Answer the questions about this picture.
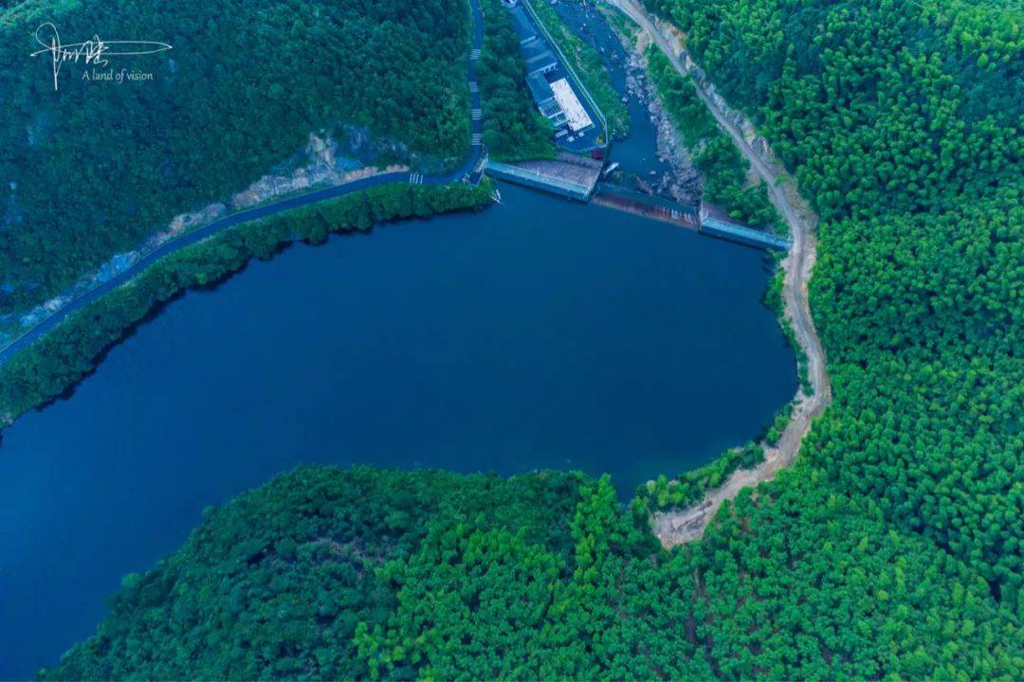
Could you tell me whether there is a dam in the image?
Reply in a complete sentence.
Yes, there's a dam here.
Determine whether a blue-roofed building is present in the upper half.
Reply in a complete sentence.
Yes, a blue-roofed building shows up in the upper half.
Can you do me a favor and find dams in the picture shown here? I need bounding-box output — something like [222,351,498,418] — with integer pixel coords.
[487,152,796,249]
